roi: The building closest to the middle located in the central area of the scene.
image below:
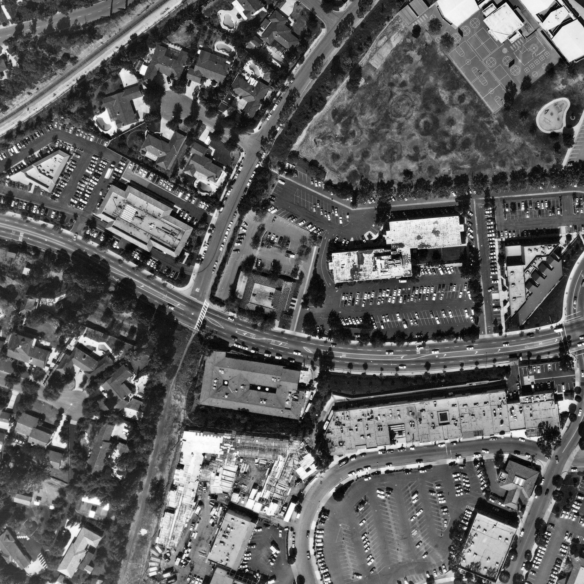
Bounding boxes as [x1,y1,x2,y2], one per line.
[235,272,297,321]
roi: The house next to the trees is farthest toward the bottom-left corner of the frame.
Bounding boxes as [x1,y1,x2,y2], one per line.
[0,525,36,571]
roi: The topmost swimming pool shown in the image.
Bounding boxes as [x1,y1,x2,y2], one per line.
[221,12,235,30]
